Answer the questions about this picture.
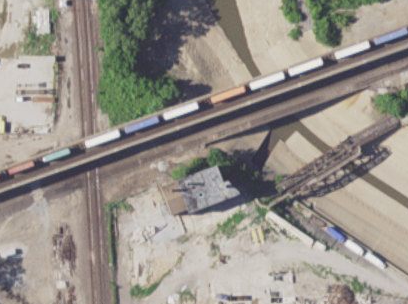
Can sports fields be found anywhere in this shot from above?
No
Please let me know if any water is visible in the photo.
Yes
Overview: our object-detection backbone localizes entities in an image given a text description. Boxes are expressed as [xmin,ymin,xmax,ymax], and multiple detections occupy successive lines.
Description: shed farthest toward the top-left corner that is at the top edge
[37,9,50,34]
